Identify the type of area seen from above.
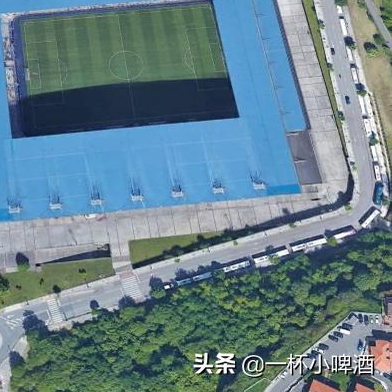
sports ground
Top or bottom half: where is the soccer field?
top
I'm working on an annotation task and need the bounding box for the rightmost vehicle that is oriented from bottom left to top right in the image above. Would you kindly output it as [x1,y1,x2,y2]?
[360,210,381,230]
